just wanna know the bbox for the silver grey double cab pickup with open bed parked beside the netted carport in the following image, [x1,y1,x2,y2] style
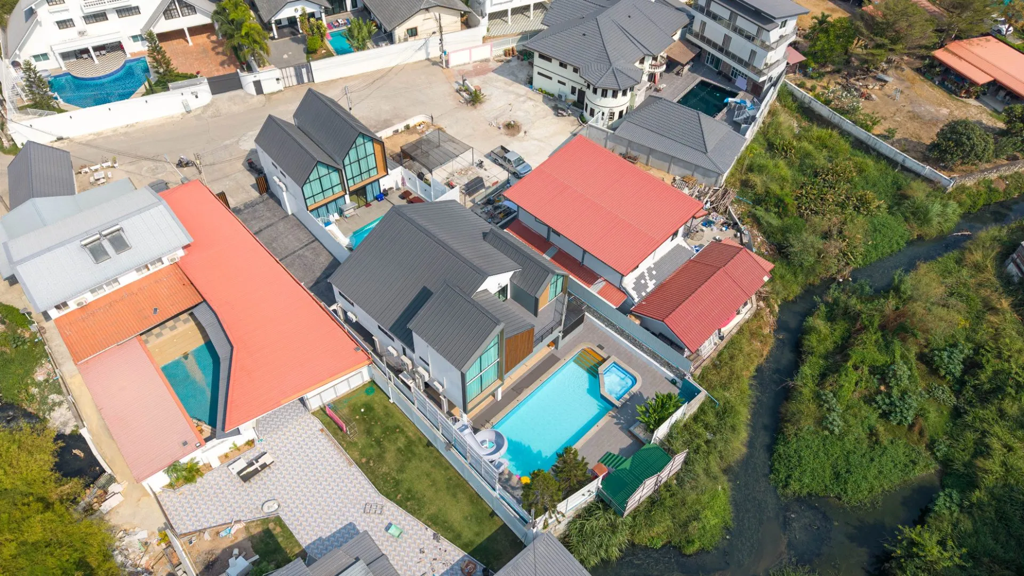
[487,148,532,178]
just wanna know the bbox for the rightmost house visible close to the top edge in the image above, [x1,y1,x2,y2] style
[934,27,1024,104]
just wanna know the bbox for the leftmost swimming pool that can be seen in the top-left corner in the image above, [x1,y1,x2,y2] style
[50,55,153,108]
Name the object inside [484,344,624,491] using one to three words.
swimming pool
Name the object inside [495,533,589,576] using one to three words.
shed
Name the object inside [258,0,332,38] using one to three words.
house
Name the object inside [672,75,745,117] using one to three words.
swimming pool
